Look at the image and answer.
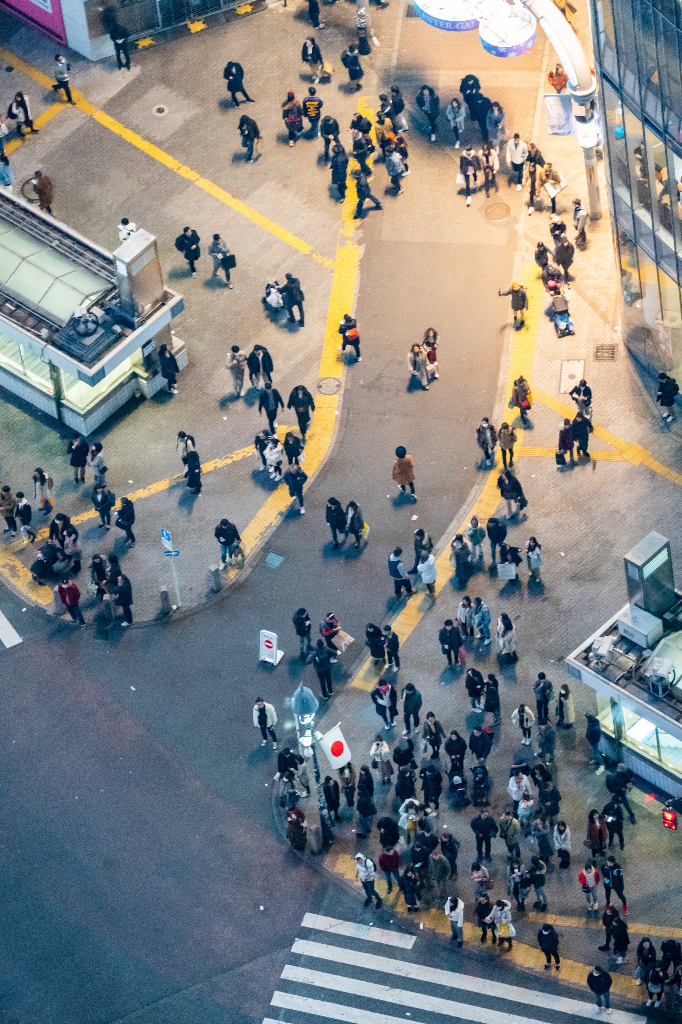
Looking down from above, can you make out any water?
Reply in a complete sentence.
No, no water is visible.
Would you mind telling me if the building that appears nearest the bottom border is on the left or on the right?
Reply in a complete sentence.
You can find the building that appears nearest the bottom border on the right side of the picture.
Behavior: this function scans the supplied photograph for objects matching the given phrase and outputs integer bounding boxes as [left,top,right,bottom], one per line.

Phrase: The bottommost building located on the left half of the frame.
[0,189,200,436]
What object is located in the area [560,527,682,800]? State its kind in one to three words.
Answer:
building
